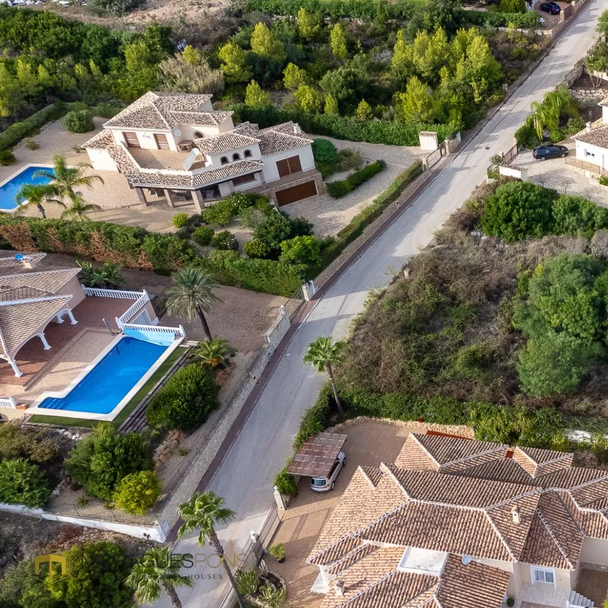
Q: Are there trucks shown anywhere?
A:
No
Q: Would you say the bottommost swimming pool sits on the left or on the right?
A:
left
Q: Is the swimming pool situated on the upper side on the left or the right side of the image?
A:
left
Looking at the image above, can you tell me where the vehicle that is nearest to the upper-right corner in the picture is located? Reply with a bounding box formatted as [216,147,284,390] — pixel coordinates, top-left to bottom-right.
[538,1,561,14]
